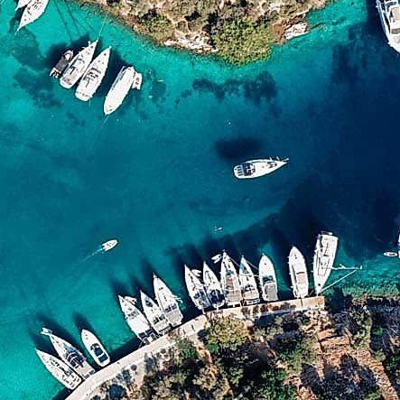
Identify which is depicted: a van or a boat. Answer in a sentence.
This aerial view contains a boat.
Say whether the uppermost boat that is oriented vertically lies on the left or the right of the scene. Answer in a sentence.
The uppermost boat that is oriented vertically is on the right side of the image.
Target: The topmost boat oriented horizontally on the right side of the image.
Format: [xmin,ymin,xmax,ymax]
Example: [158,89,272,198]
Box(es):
[233,159,288,178]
